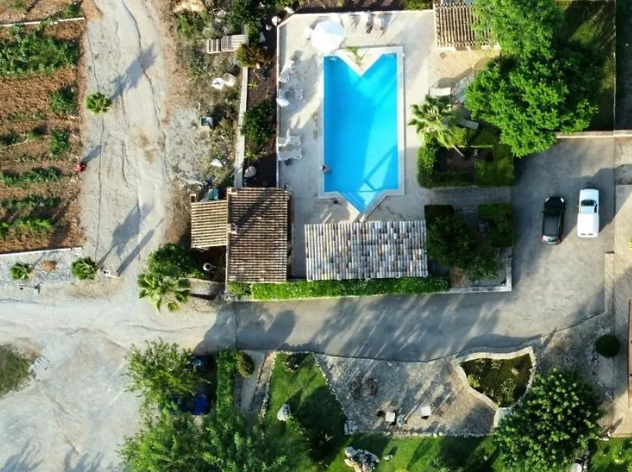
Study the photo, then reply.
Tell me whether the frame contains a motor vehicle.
Yes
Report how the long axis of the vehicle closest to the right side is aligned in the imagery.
up and down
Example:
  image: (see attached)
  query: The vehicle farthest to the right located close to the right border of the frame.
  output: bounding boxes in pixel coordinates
[576,189,601,238]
